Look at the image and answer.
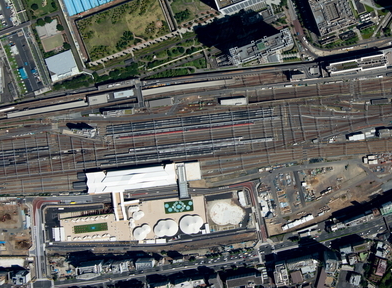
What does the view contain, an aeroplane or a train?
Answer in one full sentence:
The image shows a train.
